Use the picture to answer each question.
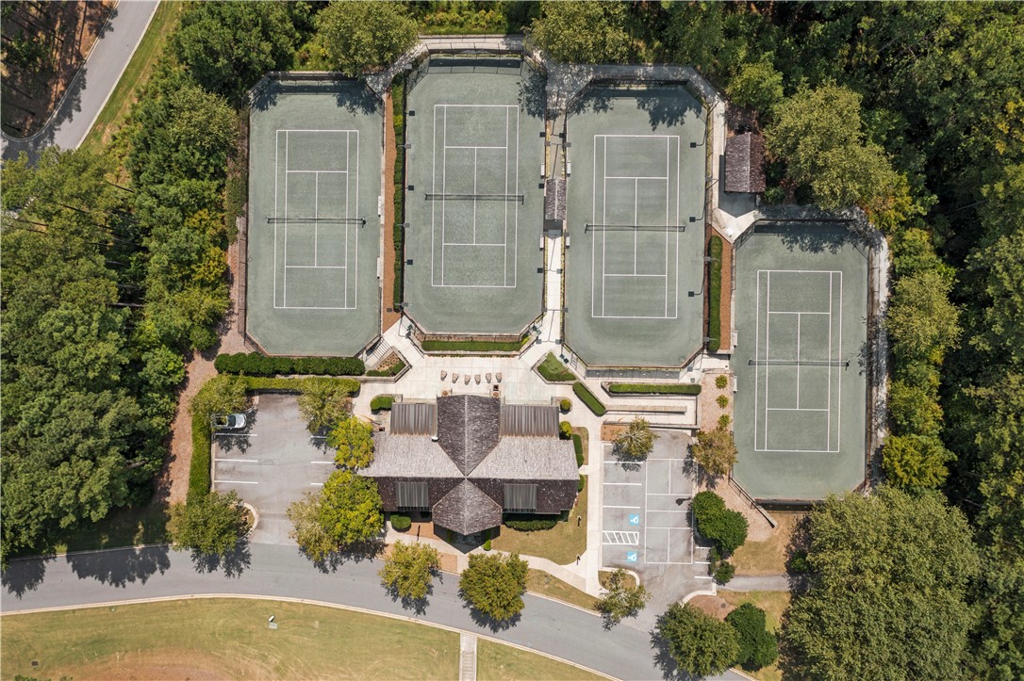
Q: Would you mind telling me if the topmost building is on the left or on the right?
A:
right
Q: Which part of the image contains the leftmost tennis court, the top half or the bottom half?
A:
top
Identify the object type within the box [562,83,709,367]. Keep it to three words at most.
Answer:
tennis court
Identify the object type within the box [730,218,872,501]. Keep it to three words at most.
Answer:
tennis court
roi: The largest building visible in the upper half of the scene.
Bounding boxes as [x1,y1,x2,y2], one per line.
[721,131,766,193]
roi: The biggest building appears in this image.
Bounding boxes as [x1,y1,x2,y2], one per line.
[359,394,579,535]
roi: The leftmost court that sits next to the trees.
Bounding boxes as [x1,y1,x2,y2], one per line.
[244,80,385,357]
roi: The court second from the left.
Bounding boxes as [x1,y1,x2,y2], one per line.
[403,53,546,335]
